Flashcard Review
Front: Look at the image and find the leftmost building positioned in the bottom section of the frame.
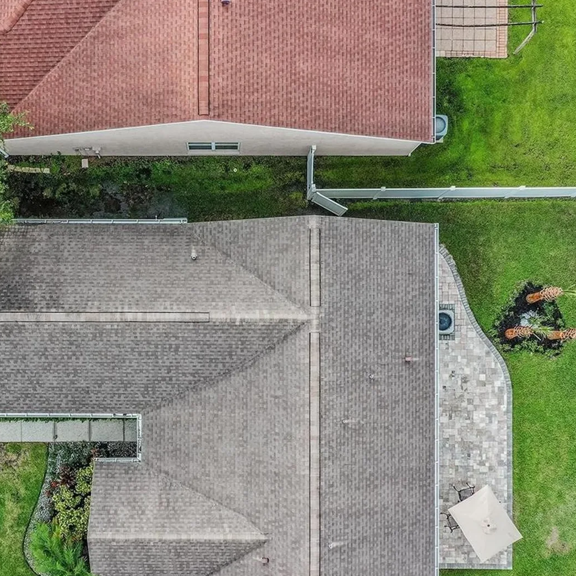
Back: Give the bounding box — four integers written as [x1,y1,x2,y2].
[0,213,440,576]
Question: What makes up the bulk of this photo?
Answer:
buildings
